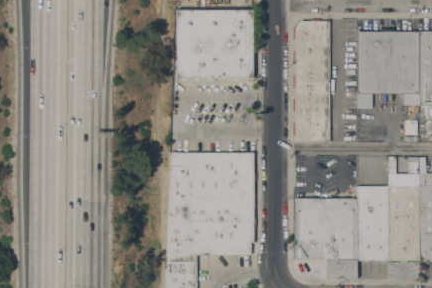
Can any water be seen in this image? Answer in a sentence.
No, no water is visible.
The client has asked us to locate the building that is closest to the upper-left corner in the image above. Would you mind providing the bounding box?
[176,9,254,79]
